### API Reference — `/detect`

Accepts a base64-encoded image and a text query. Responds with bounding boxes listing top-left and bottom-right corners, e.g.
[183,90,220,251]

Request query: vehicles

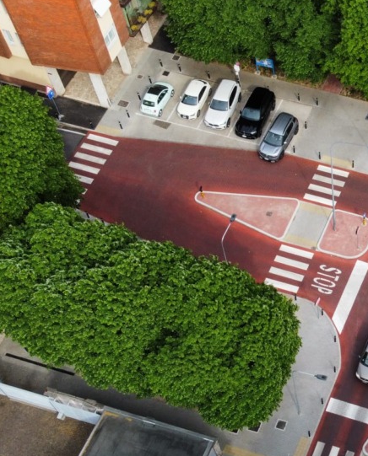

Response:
[262,112,296,160]
[140,80,176,117]
[206,78,239,127]
[177,77,212,121]
[238,86,274,136]
[355,335,368,385]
